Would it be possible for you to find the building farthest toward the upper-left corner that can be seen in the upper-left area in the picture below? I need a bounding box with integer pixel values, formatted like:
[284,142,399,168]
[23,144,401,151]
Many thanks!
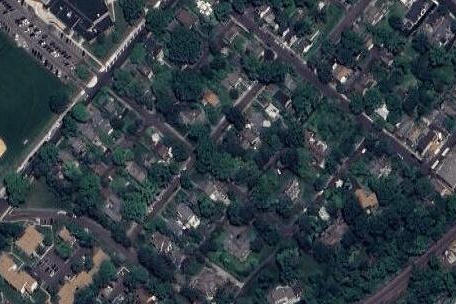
[51,0,113,45]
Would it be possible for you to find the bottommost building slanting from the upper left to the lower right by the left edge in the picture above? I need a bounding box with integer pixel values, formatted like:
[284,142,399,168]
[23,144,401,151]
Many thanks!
[0,252,40,298]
